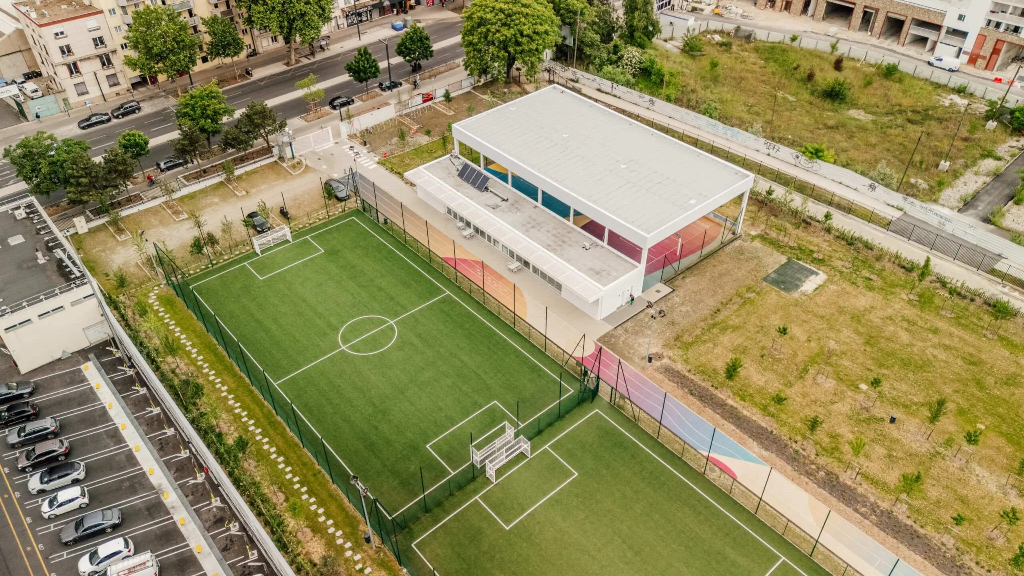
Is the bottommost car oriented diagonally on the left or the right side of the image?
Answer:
left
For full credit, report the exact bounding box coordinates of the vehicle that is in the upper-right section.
[927,57,963,74]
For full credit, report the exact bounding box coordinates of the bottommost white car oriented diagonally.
[73,530,140,576]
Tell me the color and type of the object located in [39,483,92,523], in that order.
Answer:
white car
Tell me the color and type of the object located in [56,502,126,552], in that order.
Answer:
gray car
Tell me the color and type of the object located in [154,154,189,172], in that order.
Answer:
gray car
